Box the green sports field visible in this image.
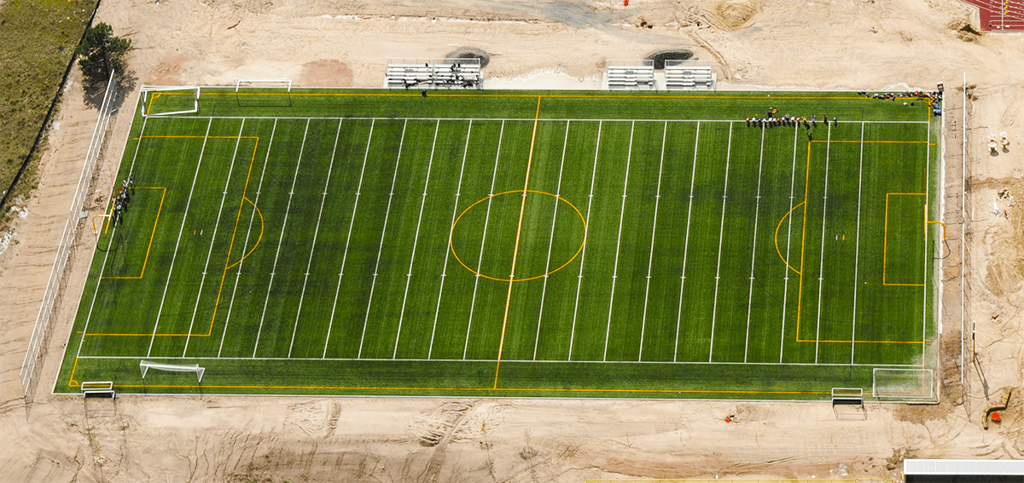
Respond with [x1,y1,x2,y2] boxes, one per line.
[52,85,944,403]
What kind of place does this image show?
sports ground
